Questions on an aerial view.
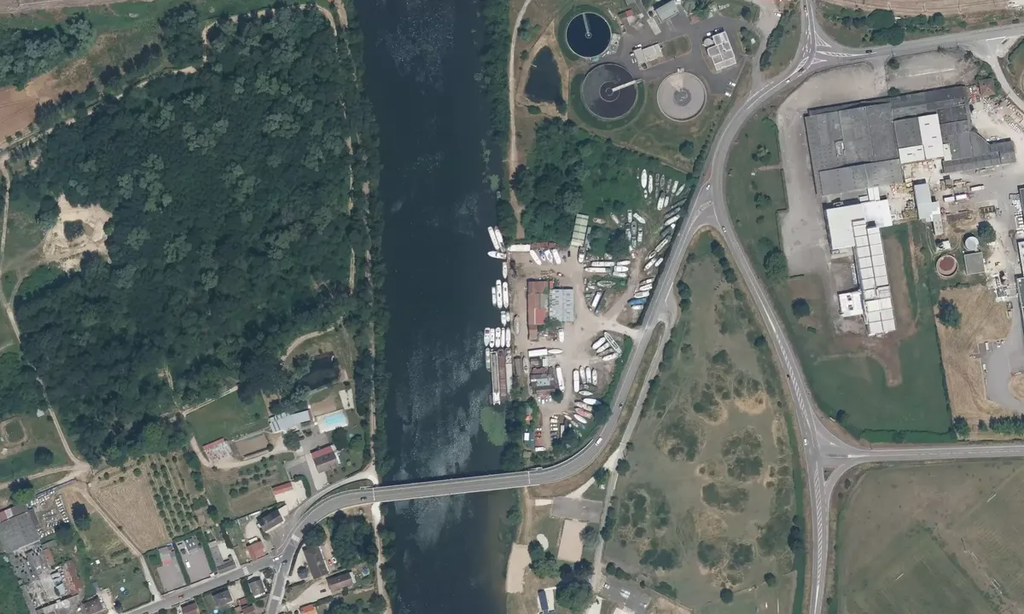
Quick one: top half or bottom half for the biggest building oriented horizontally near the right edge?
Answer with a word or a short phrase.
top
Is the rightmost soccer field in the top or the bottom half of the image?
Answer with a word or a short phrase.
bottom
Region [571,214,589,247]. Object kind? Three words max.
shed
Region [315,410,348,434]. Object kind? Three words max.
swimming pool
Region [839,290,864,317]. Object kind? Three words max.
building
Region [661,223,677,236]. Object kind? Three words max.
boat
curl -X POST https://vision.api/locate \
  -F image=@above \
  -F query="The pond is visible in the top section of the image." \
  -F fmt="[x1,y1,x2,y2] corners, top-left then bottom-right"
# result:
[524,46,563,103]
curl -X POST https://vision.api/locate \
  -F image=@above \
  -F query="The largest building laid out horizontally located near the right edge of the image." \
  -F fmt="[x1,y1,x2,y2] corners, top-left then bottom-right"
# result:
[804,84,1016,196]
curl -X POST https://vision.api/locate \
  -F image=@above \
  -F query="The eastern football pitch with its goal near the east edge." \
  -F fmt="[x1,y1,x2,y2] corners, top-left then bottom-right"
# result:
[955,473,1024,613]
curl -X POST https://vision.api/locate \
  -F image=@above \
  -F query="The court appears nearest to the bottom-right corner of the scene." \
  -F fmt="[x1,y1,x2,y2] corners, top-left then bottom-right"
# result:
[557,520,587,561]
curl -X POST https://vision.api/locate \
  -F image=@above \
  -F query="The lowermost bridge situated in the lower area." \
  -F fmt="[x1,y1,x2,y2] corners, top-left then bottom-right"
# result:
[373,471,531,502]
